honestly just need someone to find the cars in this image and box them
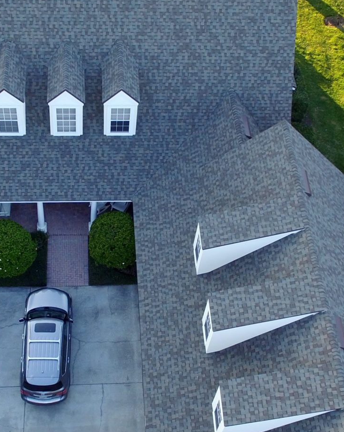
[15,288,74,405]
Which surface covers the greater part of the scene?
buildings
